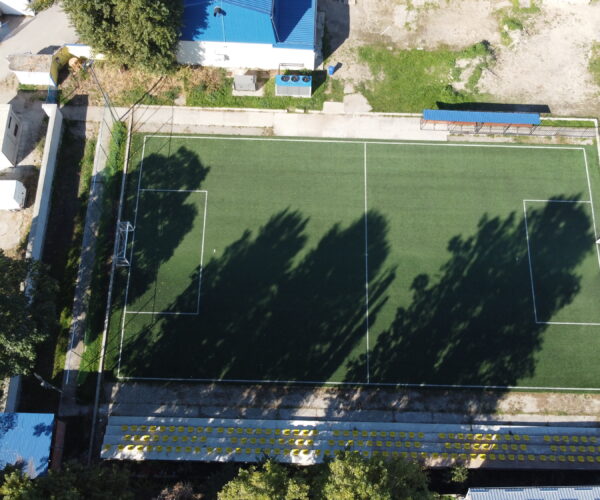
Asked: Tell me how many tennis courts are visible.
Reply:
zero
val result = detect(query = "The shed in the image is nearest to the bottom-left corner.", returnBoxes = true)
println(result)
[0,411,67,477]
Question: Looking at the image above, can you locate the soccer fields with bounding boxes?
[102,133,600,397]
